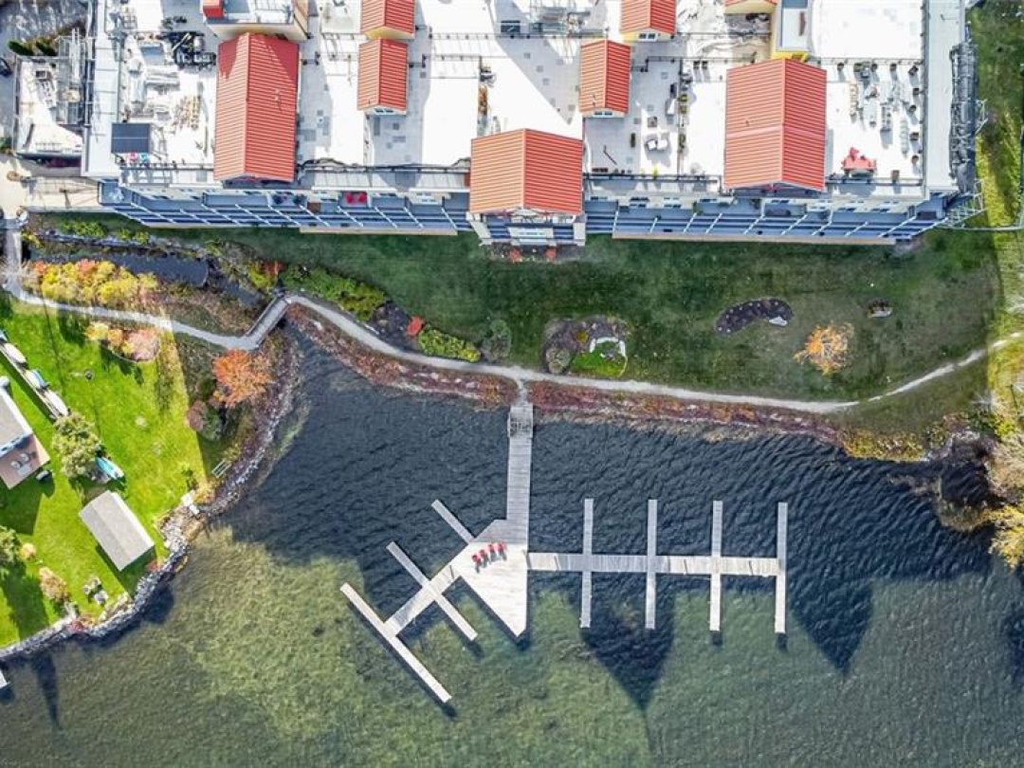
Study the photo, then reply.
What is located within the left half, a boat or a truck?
boat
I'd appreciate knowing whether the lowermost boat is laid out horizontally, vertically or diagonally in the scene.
diagonally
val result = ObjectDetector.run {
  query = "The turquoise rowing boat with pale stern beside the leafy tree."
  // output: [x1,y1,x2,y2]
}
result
[95,457,122,480]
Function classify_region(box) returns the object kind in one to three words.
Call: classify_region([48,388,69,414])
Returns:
boat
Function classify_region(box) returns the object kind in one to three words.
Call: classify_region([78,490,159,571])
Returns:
shed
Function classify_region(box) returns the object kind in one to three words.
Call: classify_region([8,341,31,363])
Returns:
boat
